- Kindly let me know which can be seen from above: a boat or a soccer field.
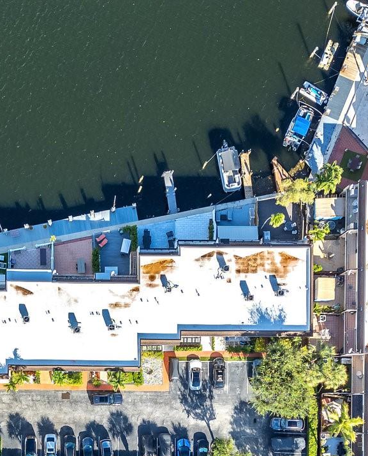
boat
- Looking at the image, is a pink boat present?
No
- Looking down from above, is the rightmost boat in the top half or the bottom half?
top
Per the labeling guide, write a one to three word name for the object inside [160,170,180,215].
pier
